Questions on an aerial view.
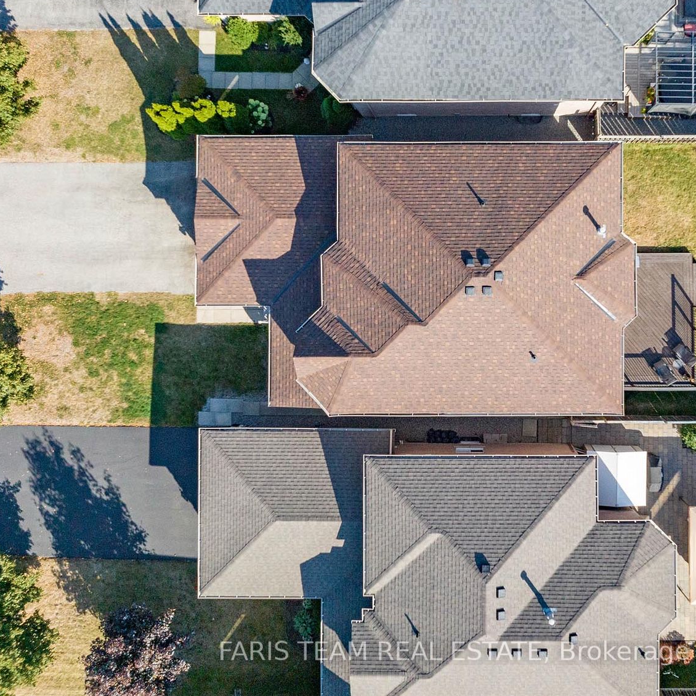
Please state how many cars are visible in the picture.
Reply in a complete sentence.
I count no cars.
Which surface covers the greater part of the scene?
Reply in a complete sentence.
The bulk of the photo consists of buildings.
